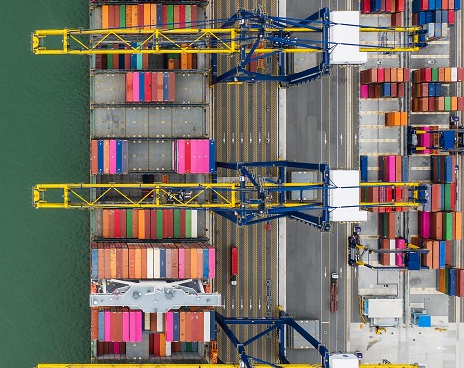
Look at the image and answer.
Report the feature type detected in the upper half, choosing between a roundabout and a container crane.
container crane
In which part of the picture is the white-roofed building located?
bottom right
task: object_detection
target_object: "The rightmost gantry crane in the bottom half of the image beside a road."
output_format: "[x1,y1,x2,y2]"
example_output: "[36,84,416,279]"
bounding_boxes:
[352,237,432,272]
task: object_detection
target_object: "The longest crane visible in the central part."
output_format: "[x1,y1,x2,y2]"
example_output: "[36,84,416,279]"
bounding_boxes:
[29,158,433,227]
